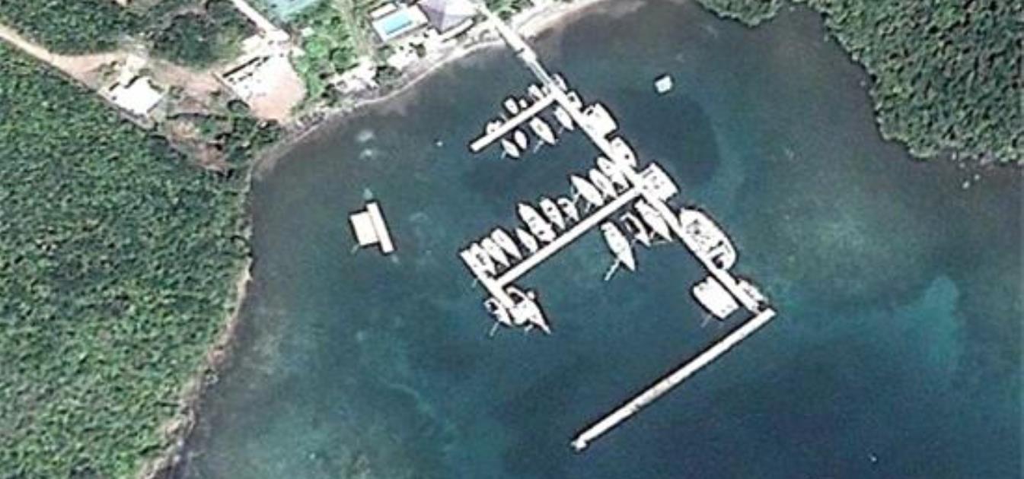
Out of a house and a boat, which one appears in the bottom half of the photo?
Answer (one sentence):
It is a boat that can be seen in the bottom half of the photo.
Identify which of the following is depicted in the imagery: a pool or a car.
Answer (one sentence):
This aerial view contains a pool.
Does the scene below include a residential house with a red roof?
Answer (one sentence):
No, there is no residential house with a red roof in the image.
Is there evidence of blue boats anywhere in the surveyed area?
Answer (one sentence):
No, I find no blue boat anywhere in the image.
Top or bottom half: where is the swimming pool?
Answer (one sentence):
The swimming pool is in the top half of the image.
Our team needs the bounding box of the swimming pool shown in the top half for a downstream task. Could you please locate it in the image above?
[372,4,429,40]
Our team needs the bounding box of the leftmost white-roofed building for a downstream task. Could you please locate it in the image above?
[109,76,163,112]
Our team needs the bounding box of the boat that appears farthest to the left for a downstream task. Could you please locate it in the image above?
[350,209,378,245]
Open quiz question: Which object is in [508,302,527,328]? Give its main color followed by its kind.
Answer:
white boat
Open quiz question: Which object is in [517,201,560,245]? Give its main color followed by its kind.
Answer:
white boat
